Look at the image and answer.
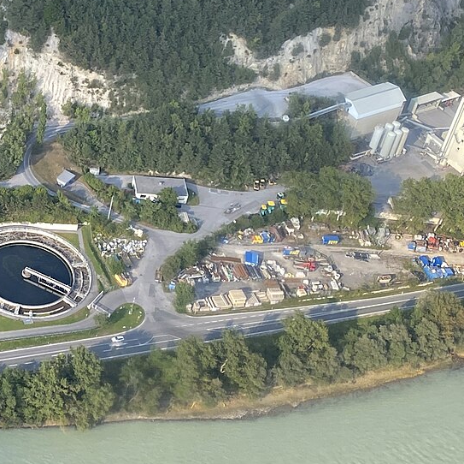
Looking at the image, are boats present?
No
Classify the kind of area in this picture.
industrial area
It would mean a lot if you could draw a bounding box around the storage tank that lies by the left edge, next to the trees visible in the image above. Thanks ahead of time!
[0,226,92,322]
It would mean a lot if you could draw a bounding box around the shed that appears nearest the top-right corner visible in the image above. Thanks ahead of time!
[404,90,446,115]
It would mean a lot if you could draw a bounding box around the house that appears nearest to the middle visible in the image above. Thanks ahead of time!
[134,177,189,205]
